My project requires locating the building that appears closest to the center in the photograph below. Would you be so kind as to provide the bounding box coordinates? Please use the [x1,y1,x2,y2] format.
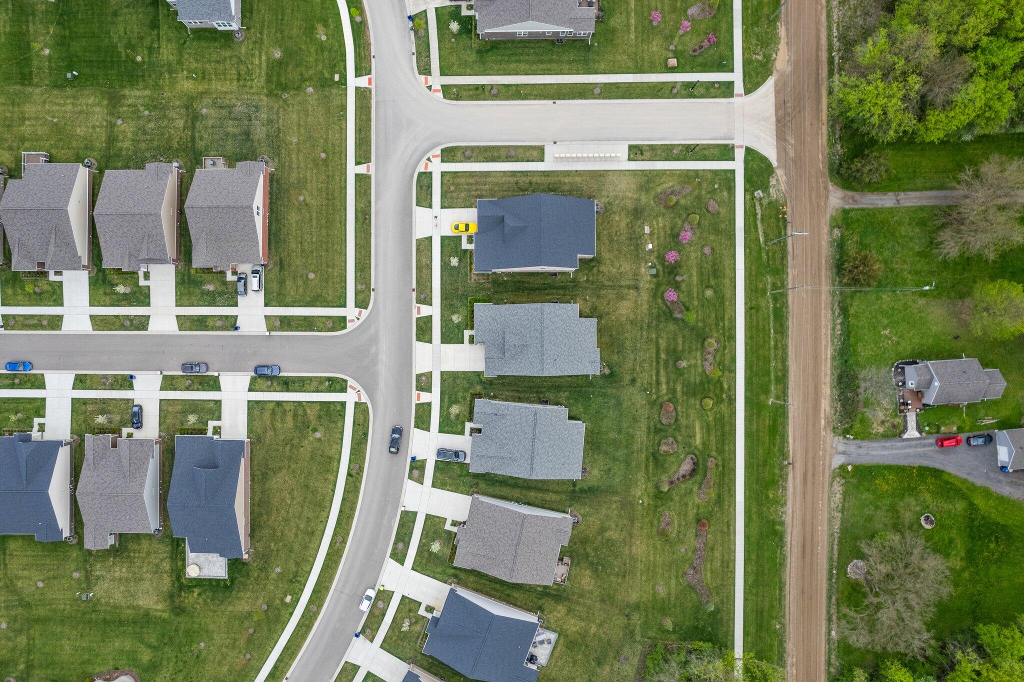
[473,300,601,379]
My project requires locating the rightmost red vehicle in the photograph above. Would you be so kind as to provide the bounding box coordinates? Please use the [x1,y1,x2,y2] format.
[935,435,962,447]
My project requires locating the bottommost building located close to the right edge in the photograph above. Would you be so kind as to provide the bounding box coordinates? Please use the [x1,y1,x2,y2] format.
[996,426,1024,467]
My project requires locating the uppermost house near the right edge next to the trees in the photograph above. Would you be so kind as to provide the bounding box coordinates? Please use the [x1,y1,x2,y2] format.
[899,354,1007,417]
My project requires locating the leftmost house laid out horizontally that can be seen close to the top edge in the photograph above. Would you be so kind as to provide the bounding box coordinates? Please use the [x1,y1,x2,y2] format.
[165,0,246,34]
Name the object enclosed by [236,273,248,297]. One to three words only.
vehicle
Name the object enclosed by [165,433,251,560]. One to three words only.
house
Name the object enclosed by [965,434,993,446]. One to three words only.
vehicle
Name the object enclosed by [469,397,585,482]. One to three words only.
house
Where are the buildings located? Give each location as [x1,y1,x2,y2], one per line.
[473,0,597,45]
[473,300,601,379]
[451,492,574,588]
[165,0,246,34]
[76,432,162,551]
[395,661,445,682]
[996,426,1024,467]
[473,194,596,277]
[469,397,585,482]
[93,162,185,272]
[165,433,251,560]
[185,160,274,272]
[0,430,74,543]
[899,354,1007,417]
[1,163,95,272]
[422,582,541,682]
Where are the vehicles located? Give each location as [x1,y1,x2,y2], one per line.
[436,449,466,462]
[254,365,281,377]
[359,587,377,613]
[236,273,248,297]
[451,223,474,233]
[250,265,263,292]
[5,361,34,371]
[131,404,144,429]
[965,434,993,446]
[181,362,208,374]
[935,435,962,447]
[389,426,402,454]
